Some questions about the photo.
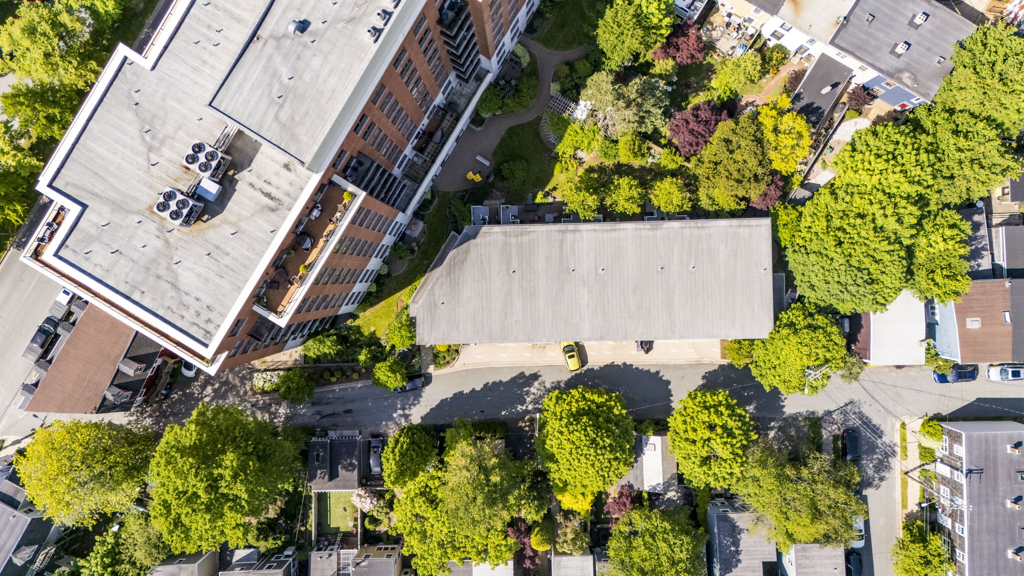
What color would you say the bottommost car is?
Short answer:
black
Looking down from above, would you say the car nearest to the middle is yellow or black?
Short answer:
yellow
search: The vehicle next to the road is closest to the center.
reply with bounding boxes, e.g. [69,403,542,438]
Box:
[558,342,581,373]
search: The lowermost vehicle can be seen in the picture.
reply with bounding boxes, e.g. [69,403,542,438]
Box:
[845,552,865,576]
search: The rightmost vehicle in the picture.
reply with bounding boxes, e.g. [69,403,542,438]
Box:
[987,363,1024,384]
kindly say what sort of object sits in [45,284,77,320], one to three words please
truck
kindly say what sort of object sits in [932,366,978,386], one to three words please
car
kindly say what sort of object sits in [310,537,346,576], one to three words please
house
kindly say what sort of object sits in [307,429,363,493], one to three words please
house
